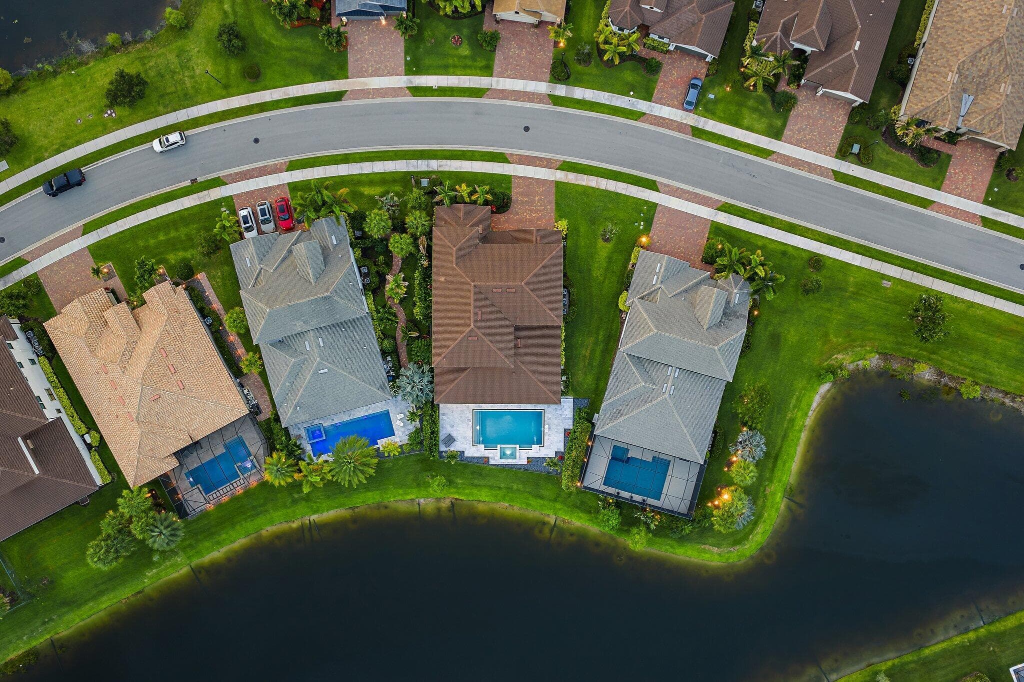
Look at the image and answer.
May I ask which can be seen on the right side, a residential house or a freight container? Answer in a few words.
residential house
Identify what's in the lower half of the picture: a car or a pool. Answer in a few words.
pool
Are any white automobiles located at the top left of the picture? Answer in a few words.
Yes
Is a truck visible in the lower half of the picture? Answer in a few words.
No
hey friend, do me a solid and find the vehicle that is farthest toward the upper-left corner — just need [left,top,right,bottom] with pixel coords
[45,169,87,195]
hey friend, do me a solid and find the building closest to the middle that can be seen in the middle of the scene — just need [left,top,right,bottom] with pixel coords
[432,204,563,404]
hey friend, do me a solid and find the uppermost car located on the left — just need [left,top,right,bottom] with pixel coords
[154,132,187,153]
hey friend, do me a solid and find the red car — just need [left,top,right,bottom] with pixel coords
[275,197,295,230]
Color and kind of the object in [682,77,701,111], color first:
blue car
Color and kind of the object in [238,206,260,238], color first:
white car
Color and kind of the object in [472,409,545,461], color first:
blue swimming pool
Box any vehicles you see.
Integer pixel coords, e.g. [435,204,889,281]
[238,206,260,238]
[45,169,87,195]
[154,132,187,153]
[682,77,701,111]
[275,197,295,230]
[257,201,277,233]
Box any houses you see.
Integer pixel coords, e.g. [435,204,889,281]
[895,0,1024,154]
[43,281,252,489]
[594,250,753,464]
[493,0,565,28]
[229,215,392,428]
[335,0,407,23]
[432,204,563,404]
[750,0,900,109]
[0,315,106,542]
[608,0,735,65]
